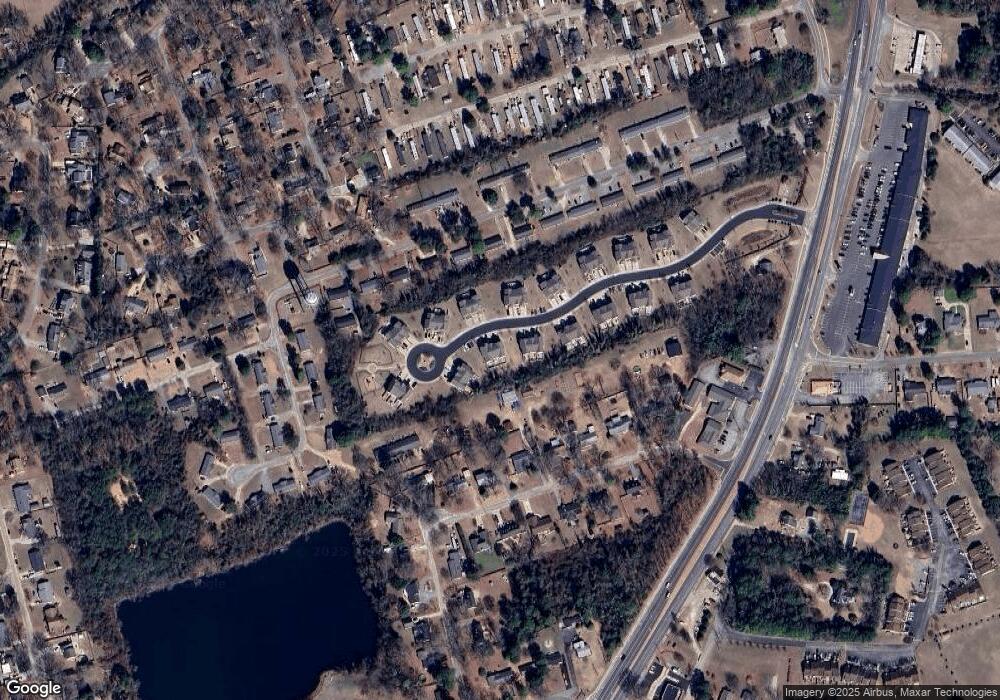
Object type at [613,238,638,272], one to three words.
house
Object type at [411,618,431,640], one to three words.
house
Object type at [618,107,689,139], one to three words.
building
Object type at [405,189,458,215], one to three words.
building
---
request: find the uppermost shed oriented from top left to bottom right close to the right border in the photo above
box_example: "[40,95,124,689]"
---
[943,127,995,180]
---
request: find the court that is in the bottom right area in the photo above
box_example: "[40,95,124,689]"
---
[849,493,869,525]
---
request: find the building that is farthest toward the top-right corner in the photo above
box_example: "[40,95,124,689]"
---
[913,35,926,73]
